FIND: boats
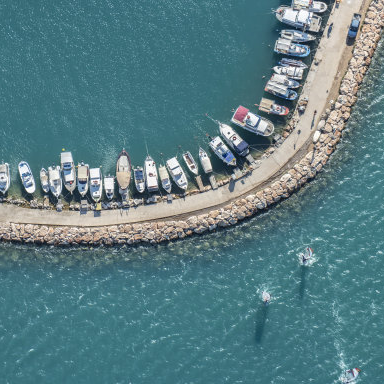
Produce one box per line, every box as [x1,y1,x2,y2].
[103,173,115,208]
[89,166,102,209]
[134,165,148,203]
[210,136,236,166]
[265,81,304,99]
[165,156,189,195]
[279,28,323,42]
[258,97,300,115]
[19,159,35,198]
[269,73,309,88]
[278,59,310,69]
[116,142,132,191]
[234,105,288,140]
[41,167,50,192]
[210,117,271,161]
[49,165,63,208]
[270,64,312,79]
[199,146,214,177]
[271,7,329,32]
[291,0,336,11]
[182,150,199,175]
[274,39,313,56]
[158,161,171,193]
[145,144,160,204]
[77,162,89,199]
[0,162,11,202]
[60,149,76,209]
